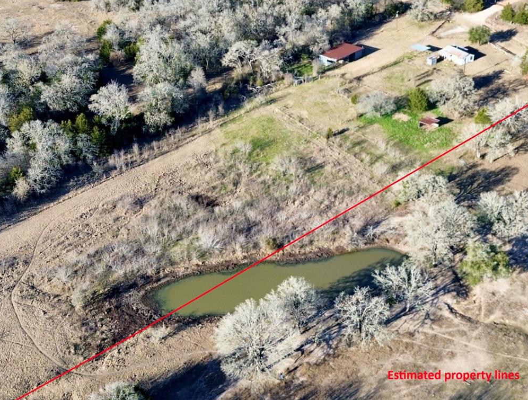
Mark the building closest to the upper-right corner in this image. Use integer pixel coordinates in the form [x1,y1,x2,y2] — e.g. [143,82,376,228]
[439,42,476,65]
